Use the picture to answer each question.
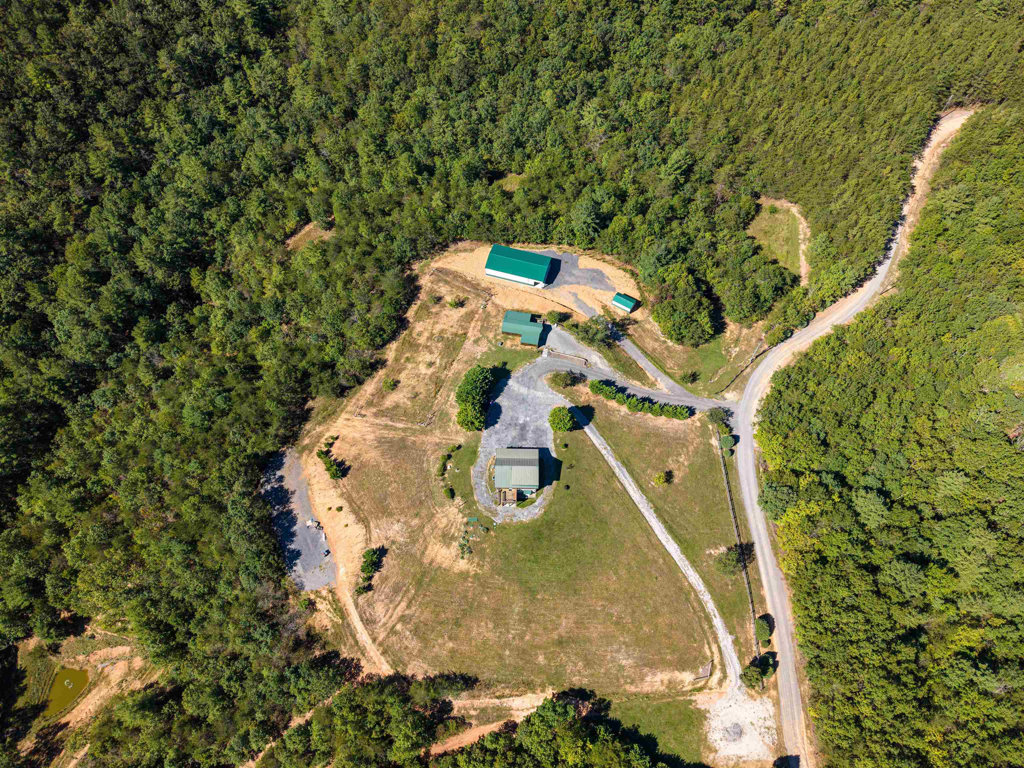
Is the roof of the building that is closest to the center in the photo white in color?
No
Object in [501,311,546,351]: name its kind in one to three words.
building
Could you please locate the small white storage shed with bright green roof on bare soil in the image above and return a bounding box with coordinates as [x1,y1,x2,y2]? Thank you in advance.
[612,291,638,314]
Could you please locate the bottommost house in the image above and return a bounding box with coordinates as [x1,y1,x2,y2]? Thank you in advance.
[495,448,539,510]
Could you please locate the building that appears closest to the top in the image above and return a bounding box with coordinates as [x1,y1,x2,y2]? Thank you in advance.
[483,243,552,290]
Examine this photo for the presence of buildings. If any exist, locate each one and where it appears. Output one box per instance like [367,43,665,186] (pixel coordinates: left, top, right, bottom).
[495,448,539,510]
[501,311,546,351]
[612,291,638,314]
[483,243,552,290]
